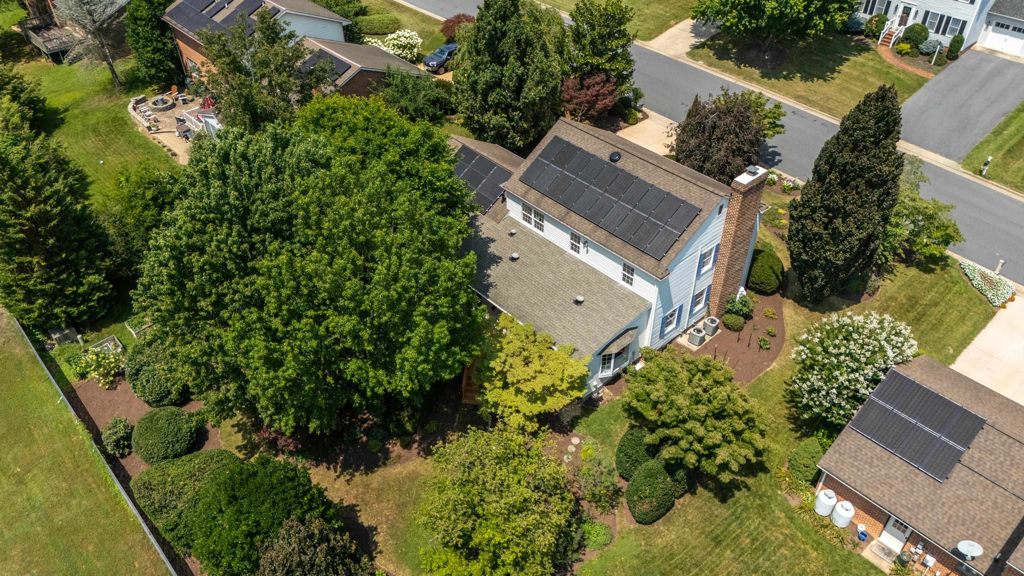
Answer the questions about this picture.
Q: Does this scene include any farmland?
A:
No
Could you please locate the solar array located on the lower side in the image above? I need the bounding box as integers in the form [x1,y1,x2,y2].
[851,371,987,480]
